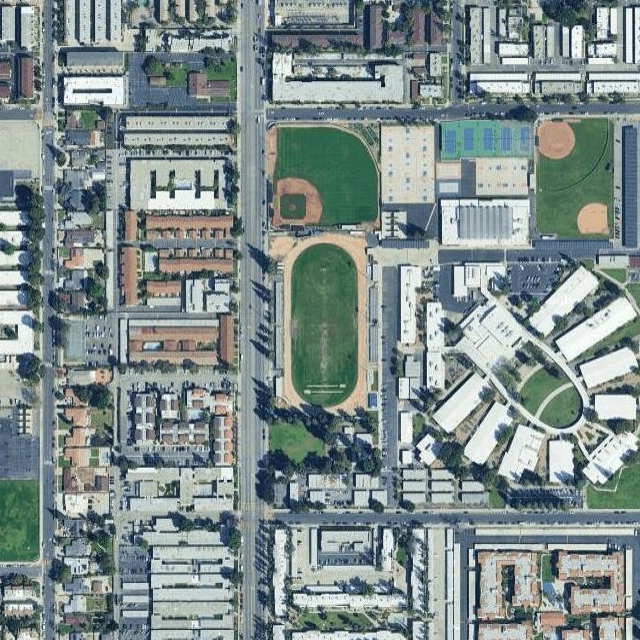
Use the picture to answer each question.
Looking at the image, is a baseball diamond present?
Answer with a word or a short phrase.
Yes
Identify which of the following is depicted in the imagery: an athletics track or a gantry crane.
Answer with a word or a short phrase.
athletics track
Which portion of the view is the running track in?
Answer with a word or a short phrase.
center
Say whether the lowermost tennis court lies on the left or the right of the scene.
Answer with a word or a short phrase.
left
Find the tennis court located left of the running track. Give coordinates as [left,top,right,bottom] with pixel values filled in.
[62,318,85,363]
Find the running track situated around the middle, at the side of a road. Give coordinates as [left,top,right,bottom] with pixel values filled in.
[271,233,367,413]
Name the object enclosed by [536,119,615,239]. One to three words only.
baseball field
